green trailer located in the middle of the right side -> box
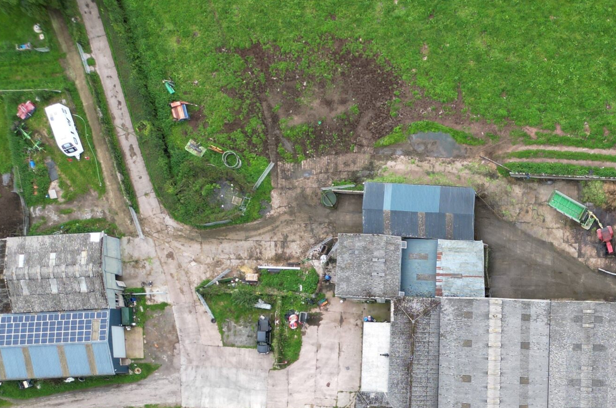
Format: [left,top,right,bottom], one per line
[547,190,597,230]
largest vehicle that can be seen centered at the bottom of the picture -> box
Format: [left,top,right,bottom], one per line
[257,319,273,356]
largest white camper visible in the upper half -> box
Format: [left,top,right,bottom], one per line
[44,101,82,160]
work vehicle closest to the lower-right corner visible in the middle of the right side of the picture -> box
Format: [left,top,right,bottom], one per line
[595,224,616,255]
